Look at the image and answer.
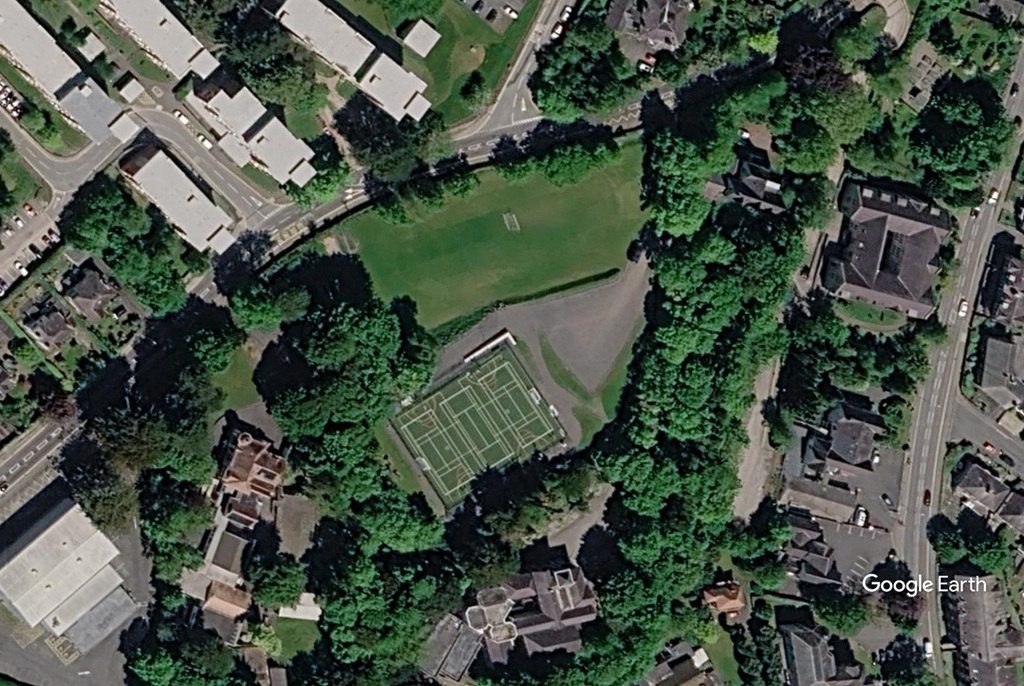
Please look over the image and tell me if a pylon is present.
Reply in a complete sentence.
No, I find no pylon anywhere in the image.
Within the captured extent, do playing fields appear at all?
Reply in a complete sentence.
Yes, the frame does contain a playing field.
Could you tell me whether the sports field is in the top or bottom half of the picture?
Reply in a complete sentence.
The sports field is in the top half of the image.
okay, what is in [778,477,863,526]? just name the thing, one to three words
shed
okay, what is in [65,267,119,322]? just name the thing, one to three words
house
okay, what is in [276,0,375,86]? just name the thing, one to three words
building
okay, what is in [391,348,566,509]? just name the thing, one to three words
sports court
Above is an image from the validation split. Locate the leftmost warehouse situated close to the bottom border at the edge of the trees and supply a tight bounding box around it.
[0,502,137,654]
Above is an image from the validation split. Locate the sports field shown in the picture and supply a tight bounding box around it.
[316,138,651,338]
